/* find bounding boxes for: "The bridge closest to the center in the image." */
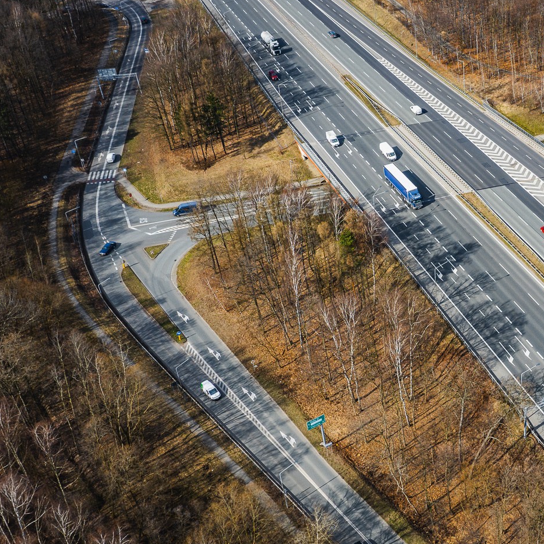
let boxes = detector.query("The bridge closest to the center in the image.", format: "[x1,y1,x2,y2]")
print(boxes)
[284,130,369,230]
